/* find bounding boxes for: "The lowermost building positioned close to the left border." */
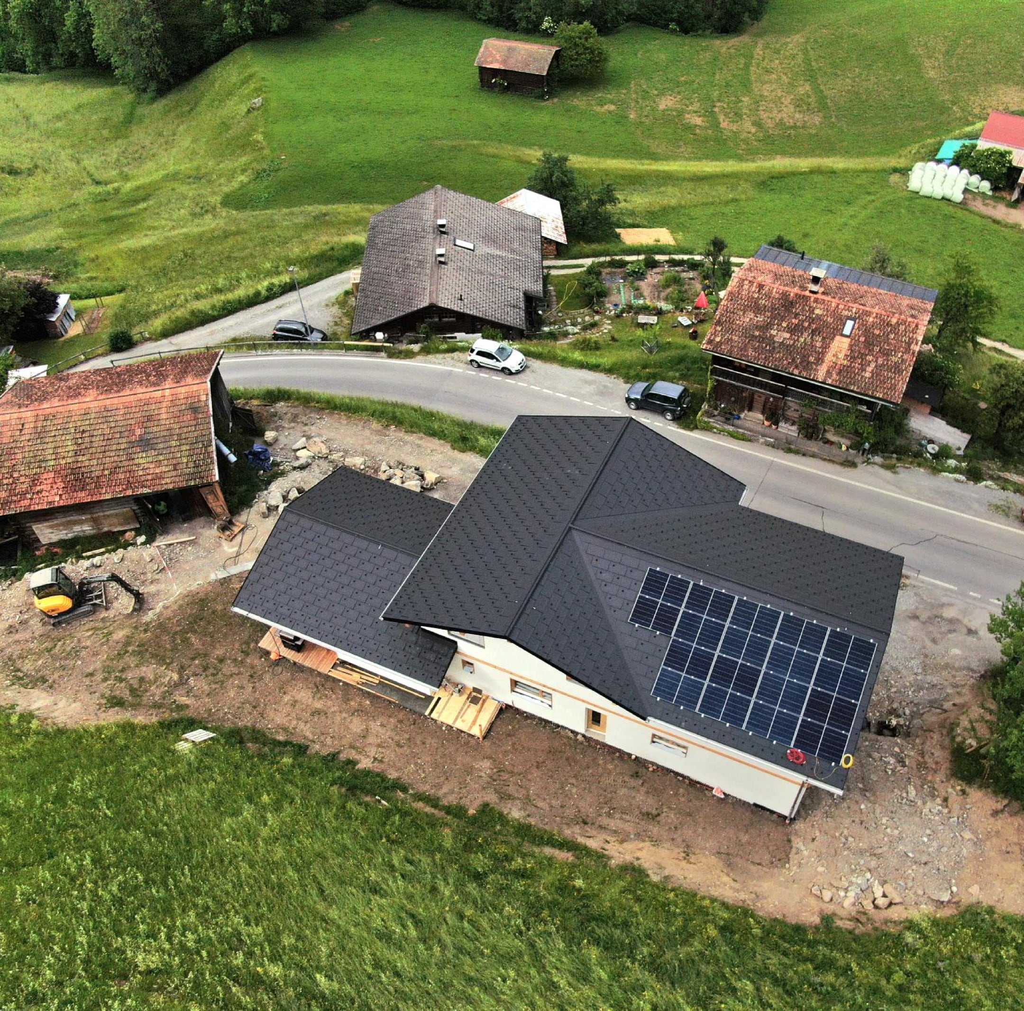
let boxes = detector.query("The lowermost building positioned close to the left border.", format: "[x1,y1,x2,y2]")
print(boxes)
[0,349,225,540]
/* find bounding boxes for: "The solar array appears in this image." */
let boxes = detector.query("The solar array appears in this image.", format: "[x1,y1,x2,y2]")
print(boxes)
[628,567,877,763]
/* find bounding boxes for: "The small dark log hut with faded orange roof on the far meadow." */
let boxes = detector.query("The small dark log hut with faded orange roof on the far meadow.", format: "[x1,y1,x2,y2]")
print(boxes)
[475,39,562,97]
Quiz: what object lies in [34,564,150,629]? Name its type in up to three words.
work vehicle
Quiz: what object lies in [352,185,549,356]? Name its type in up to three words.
house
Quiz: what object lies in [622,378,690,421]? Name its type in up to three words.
car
